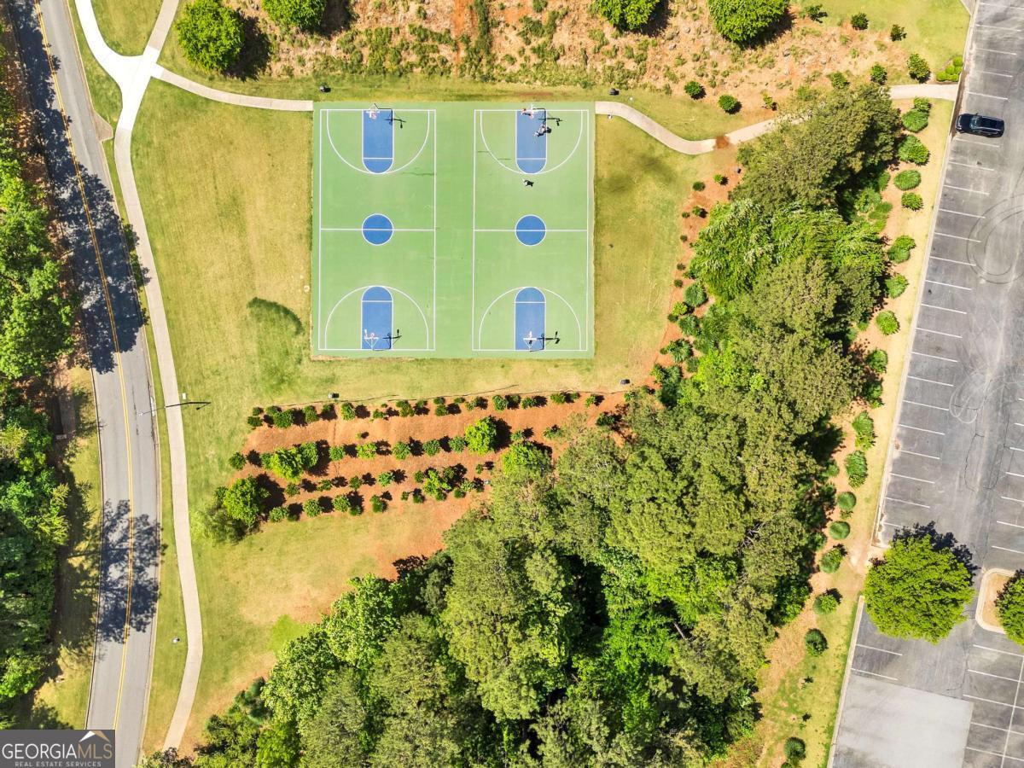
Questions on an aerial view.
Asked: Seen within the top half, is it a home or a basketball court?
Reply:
basketball court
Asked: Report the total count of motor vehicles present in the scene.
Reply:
1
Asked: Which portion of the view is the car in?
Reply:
top right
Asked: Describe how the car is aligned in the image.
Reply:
from left to right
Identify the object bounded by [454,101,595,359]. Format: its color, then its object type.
green basketball court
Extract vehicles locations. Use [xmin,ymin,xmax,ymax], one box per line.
[954,115,1003,138]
